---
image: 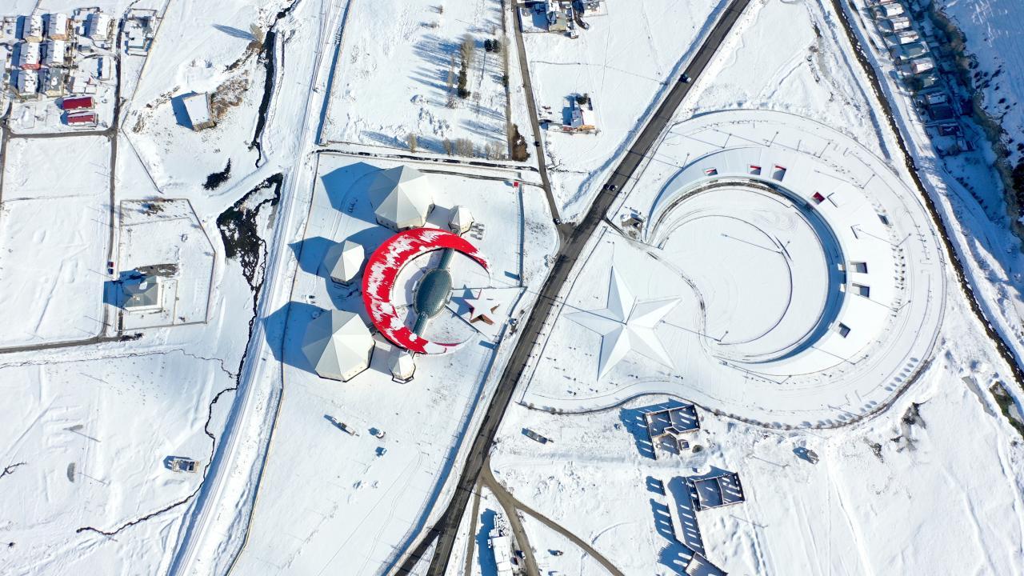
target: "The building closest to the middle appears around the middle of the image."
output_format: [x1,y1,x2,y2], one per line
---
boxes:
[463,289,499,326]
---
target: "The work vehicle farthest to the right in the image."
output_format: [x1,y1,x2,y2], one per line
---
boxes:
[797,447,818,464]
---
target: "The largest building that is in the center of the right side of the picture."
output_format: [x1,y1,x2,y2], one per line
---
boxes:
[641,144,899,379]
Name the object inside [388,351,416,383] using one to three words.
building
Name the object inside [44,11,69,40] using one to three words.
house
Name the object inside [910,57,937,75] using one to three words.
house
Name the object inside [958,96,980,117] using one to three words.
barn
